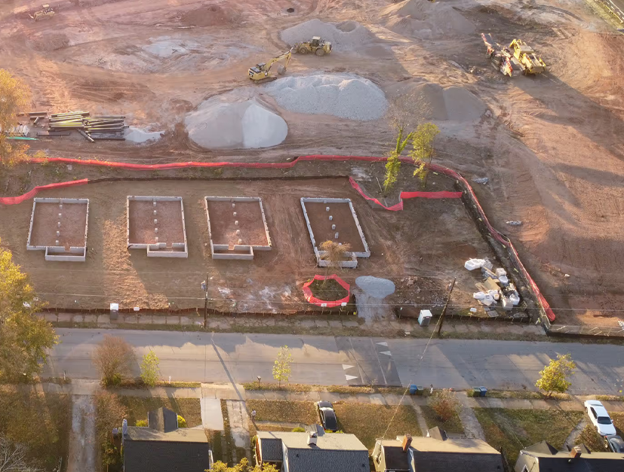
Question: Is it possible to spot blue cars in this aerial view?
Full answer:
No, this view has no blue car in it.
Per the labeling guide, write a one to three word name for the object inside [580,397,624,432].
car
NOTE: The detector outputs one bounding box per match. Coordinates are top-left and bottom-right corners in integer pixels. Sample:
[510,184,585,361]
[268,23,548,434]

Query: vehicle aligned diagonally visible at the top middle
[247,45,292,84]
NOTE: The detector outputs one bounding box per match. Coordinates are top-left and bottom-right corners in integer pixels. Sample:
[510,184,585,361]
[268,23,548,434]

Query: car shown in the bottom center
[313,397,345,431]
